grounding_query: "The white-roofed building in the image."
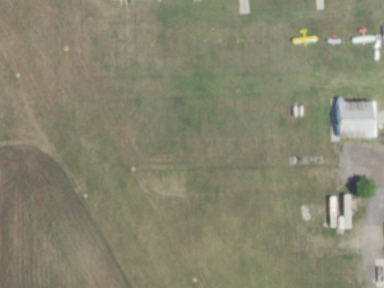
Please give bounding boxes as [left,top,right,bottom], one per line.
[336,96,378,140]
